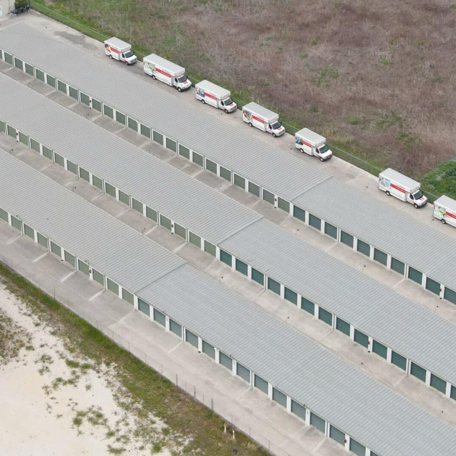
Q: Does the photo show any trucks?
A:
Yes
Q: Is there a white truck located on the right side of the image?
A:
Yes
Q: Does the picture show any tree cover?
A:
No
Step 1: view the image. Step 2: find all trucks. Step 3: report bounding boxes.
[428,195,456,229]
[193,80,236,114]
[142,54,191,91]
[374,168,428,209]
[239,103,285,138]
[103,36,138,65]
[290,128,333,162]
